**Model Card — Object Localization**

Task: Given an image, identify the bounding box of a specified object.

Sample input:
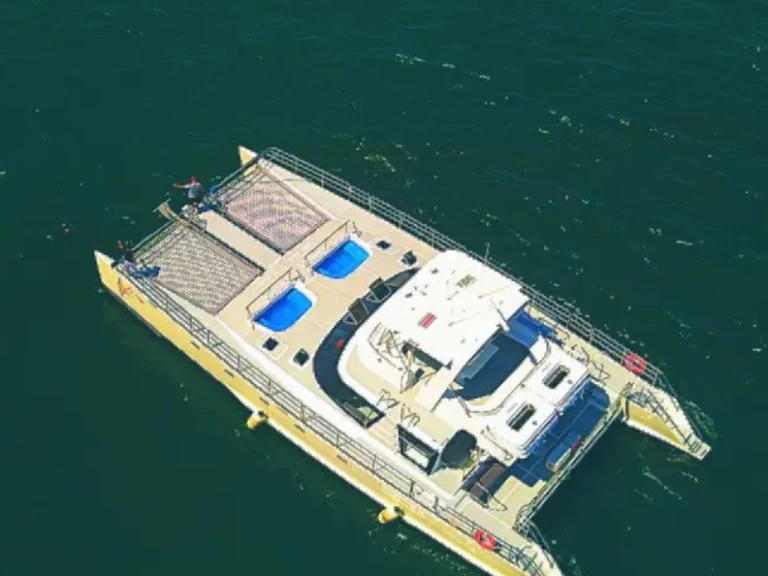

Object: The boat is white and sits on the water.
[97,144,712,576]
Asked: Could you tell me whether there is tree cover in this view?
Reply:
No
